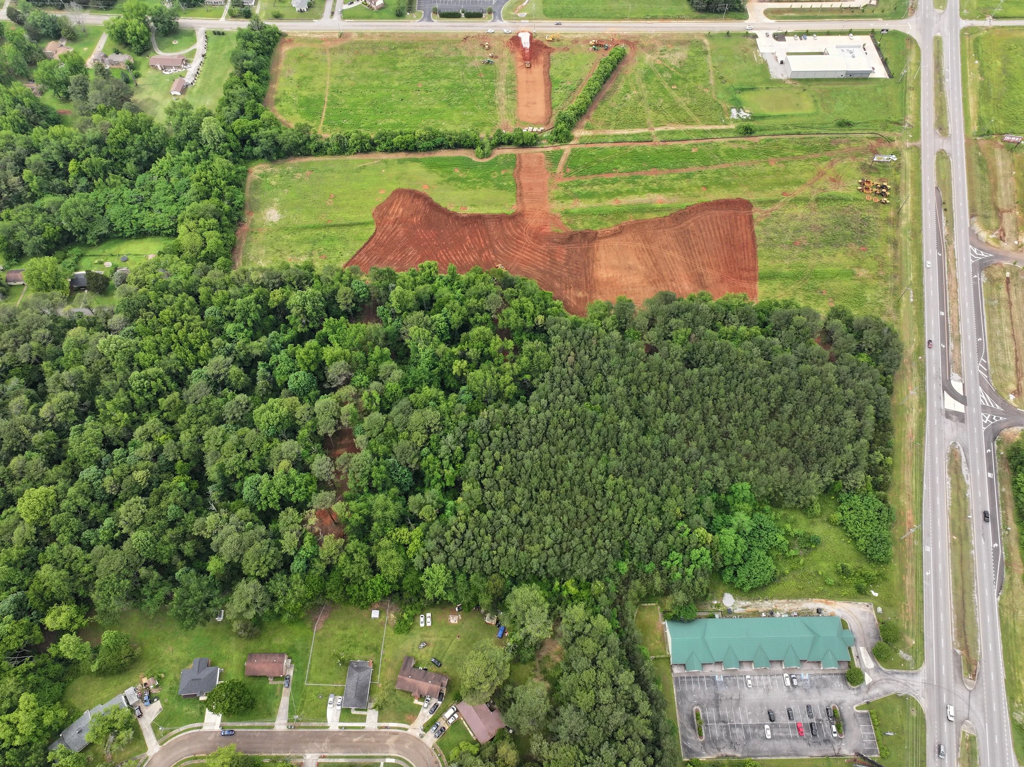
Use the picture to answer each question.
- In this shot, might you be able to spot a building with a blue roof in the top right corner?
No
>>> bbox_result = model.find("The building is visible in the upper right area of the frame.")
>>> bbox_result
[783,45,873,78]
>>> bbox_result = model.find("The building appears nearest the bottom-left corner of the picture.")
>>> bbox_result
[48,695,129,755]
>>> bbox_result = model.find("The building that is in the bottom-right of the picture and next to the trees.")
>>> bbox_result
[666,616,854,672]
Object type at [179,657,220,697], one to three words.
house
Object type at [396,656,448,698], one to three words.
house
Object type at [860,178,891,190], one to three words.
vehicle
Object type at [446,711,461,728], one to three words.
vehicle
